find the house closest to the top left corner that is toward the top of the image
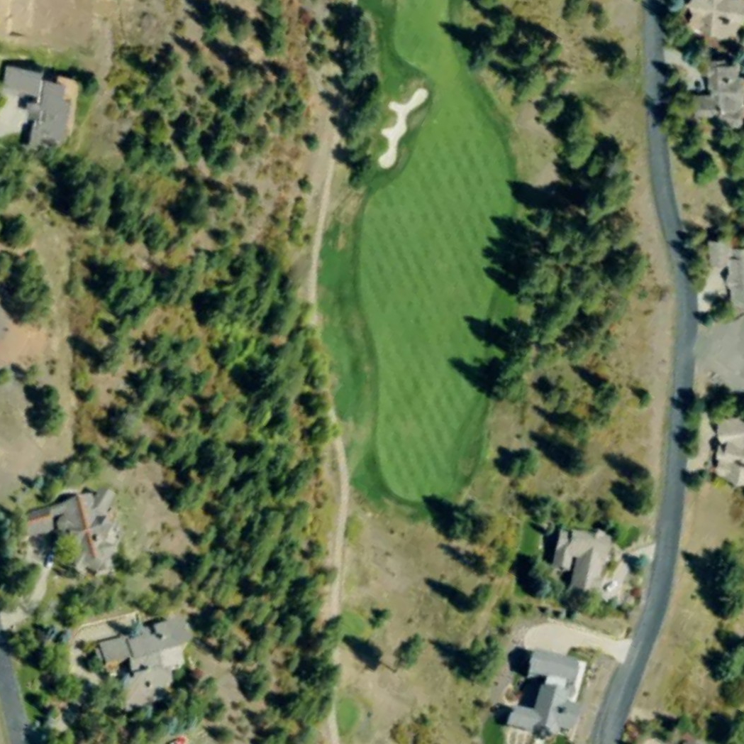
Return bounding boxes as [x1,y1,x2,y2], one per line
[2,62,78,151]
